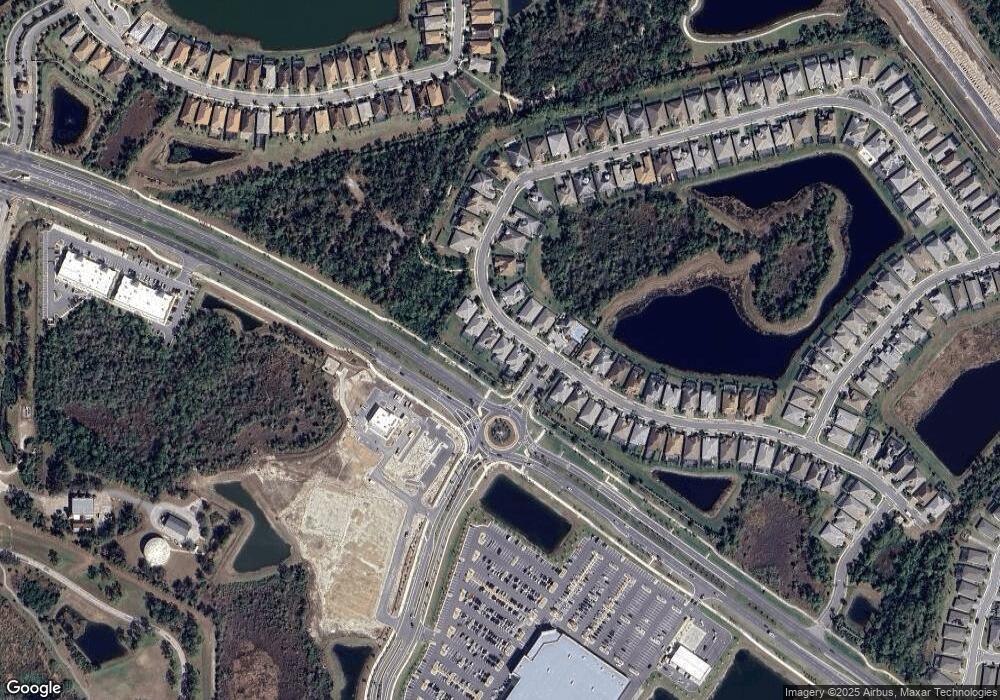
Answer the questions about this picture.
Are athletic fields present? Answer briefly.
No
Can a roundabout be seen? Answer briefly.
Yes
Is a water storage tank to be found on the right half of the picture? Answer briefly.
No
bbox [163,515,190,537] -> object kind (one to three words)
shed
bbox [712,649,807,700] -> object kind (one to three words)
pond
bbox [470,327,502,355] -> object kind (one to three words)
house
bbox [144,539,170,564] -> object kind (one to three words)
water tank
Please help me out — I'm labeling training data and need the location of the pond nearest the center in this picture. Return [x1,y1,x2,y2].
[480,474,571,553]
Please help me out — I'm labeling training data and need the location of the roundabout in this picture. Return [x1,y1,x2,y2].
[466,404,528,477]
